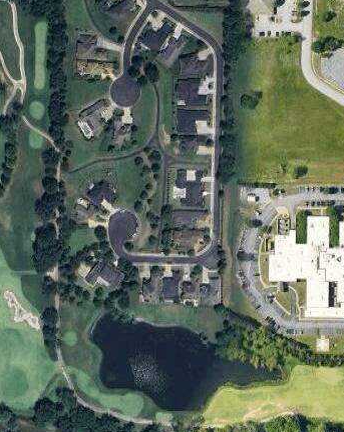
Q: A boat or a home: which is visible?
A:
home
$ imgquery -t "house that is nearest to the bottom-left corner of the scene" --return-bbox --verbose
[83,261,124,287]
